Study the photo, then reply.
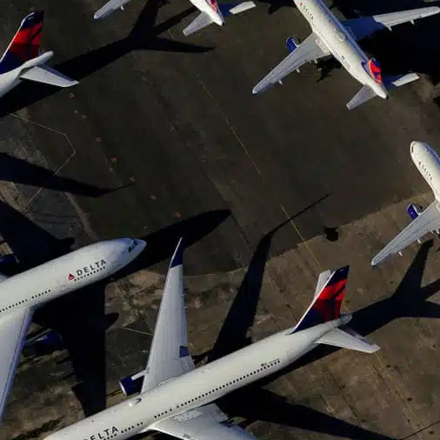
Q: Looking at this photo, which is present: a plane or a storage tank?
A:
plane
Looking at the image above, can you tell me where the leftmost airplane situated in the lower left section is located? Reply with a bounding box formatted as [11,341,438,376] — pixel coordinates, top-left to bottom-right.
[0,236,145,424]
